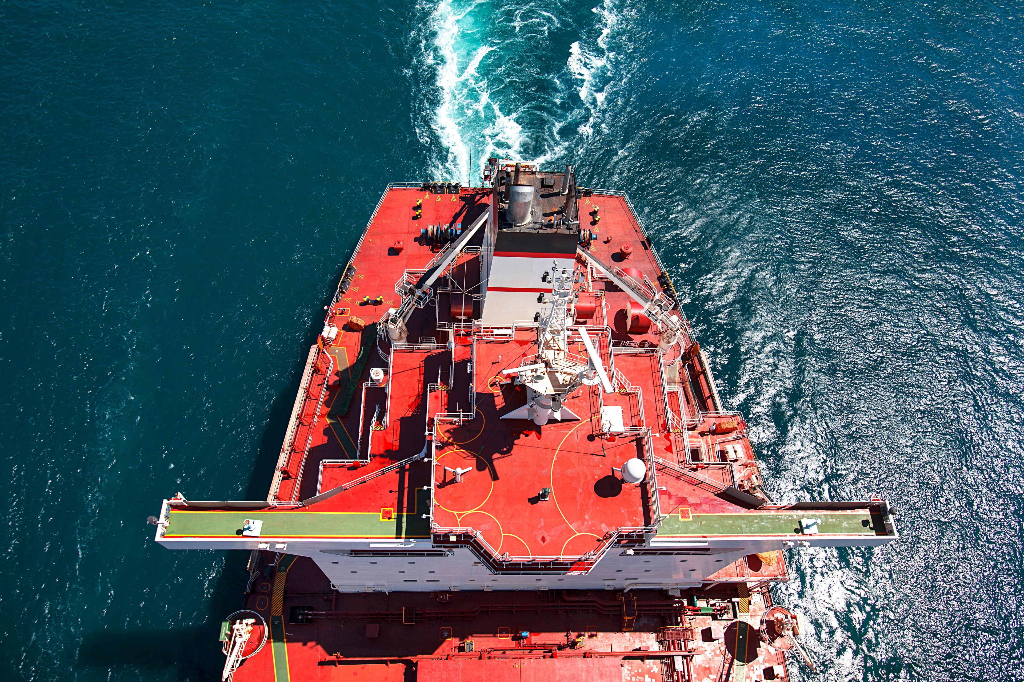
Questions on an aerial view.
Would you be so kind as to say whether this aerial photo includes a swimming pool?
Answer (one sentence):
No, I can see no swimming pool in this picture.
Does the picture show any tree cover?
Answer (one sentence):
No, tree cover can't be seen anywhere here.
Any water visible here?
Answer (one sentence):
Yes, there is water in the image.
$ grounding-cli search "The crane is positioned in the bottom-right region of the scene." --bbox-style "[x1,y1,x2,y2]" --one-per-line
[772,612,816,677]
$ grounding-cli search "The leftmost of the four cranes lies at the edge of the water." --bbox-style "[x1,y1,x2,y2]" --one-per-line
[220,618,256,682]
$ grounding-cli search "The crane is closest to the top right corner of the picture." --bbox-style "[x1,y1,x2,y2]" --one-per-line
[575,236,699,366]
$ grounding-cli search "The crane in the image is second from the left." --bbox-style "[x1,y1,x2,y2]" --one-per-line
[368,196,490,354]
